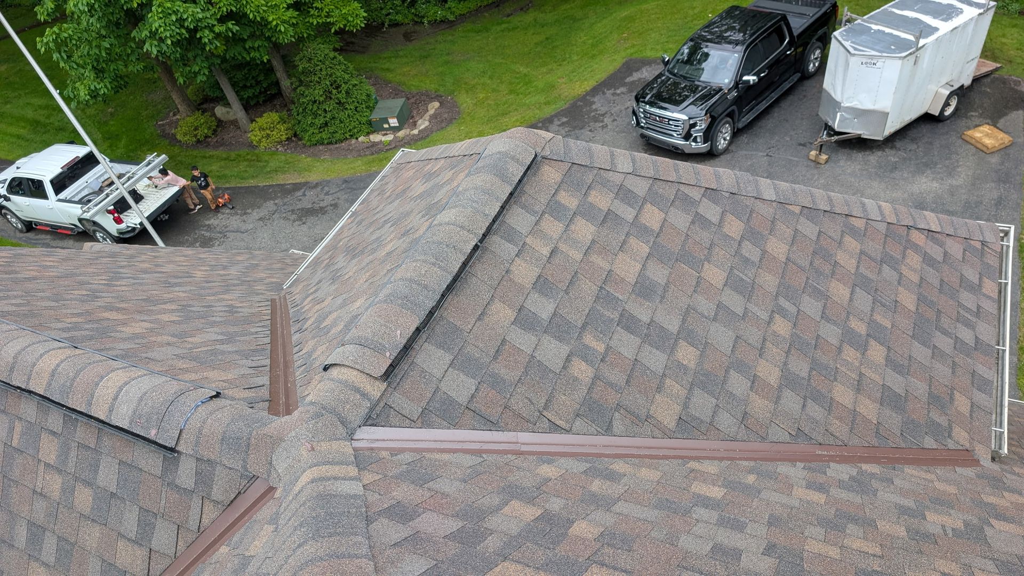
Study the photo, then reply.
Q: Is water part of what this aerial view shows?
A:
No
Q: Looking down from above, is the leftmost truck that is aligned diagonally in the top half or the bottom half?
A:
top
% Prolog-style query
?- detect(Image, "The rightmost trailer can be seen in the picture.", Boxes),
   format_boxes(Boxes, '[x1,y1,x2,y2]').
[811,0,1014,157]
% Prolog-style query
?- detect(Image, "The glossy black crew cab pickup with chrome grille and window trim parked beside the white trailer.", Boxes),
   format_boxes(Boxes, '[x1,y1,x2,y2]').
[635,0,838,151]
